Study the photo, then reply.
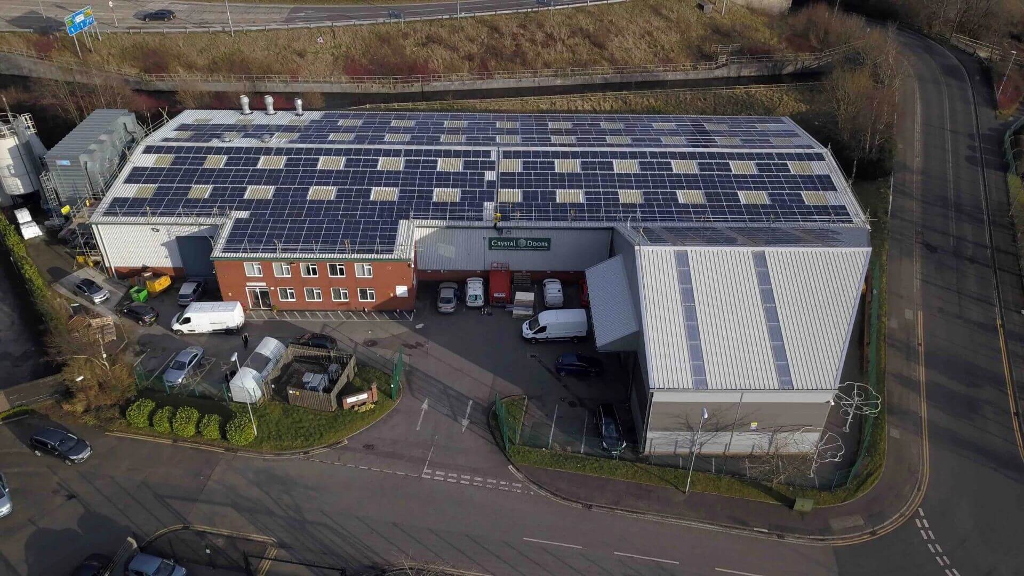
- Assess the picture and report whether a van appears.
Yes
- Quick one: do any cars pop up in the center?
Yes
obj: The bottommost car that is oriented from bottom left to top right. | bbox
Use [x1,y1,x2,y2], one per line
[160,342,207,384]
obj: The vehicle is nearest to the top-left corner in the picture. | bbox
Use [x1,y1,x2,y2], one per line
[143,7,176,22]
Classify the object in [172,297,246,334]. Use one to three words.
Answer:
van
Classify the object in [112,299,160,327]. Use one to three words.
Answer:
car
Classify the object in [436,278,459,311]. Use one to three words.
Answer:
car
